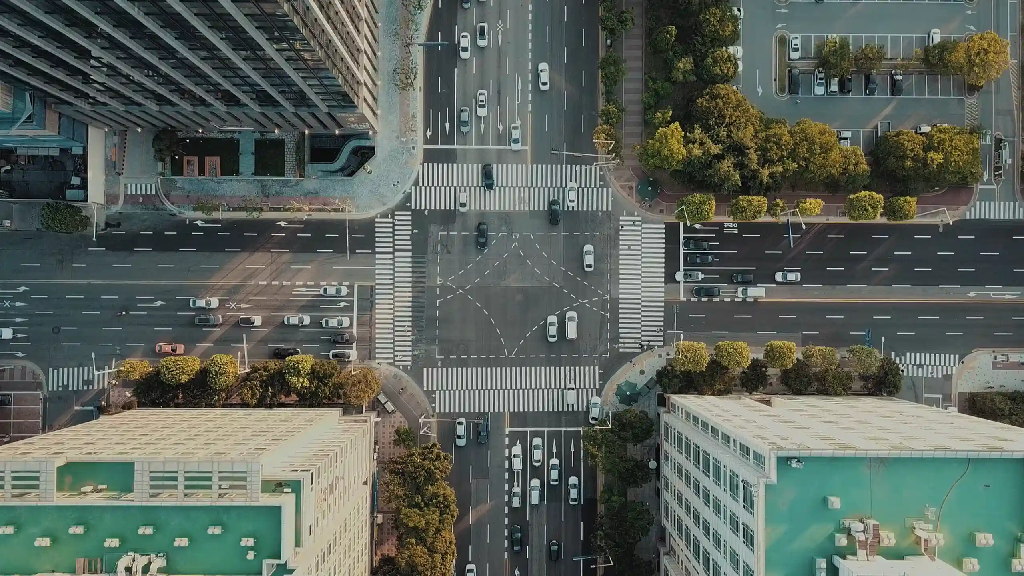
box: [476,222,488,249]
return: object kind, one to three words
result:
vehicle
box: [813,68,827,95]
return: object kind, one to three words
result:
car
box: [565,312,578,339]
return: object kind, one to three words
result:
vehicle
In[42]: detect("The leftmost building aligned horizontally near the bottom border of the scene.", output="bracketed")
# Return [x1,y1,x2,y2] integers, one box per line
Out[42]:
[0,408,375,576]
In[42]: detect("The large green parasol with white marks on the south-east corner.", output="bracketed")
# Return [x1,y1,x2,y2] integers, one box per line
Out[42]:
[615,380,639,405]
